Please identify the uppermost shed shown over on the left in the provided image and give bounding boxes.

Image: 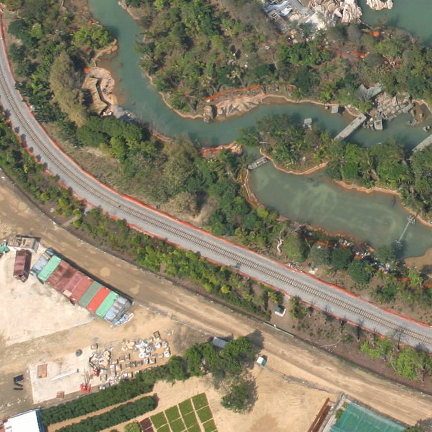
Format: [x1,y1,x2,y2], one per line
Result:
[7,236,41,256]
